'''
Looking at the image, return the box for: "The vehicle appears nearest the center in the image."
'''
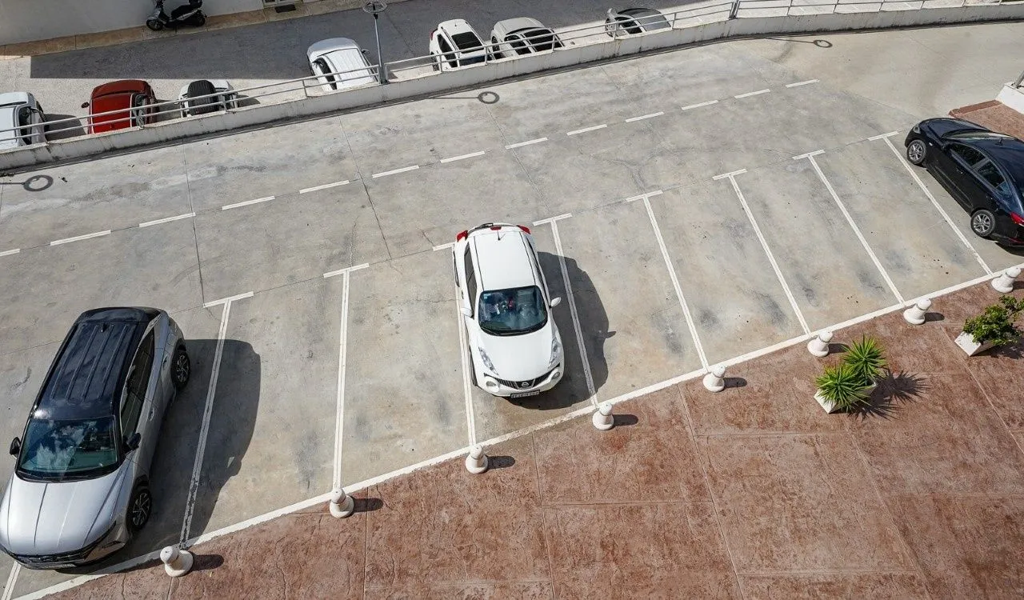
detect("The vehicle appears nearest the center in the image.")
[452,227,566,401]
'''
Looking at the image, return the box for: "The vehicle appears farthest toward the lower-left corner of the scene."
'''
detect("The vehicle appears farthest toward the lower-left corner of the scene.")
[0,309,187,567]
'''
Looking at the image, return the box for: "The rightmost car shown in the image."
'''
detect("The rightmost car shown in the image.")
[908,123,1024,250]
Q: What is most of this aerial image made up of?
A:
paved ground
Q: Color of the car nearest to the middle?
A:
white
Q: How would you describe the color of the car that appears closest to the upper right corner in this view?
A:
black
